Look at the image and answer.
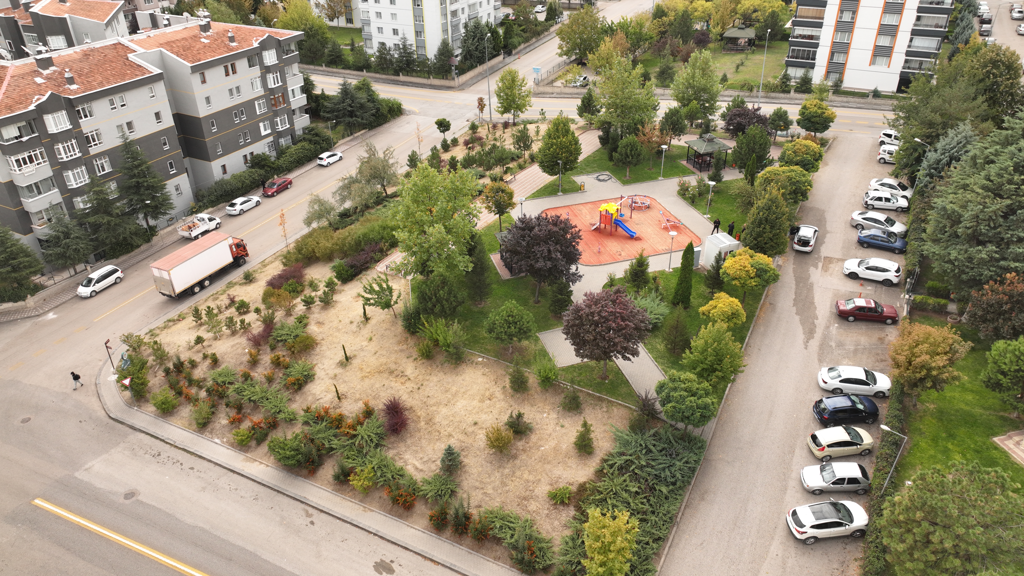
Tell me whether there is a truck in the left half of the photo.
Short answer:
Yes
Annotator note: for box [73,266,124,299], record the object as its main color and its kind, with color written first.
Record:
white car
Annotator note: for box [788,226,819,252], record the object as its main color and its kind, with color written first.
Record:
white car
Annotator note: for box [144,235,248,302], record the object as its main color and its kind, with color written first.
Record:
white truck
